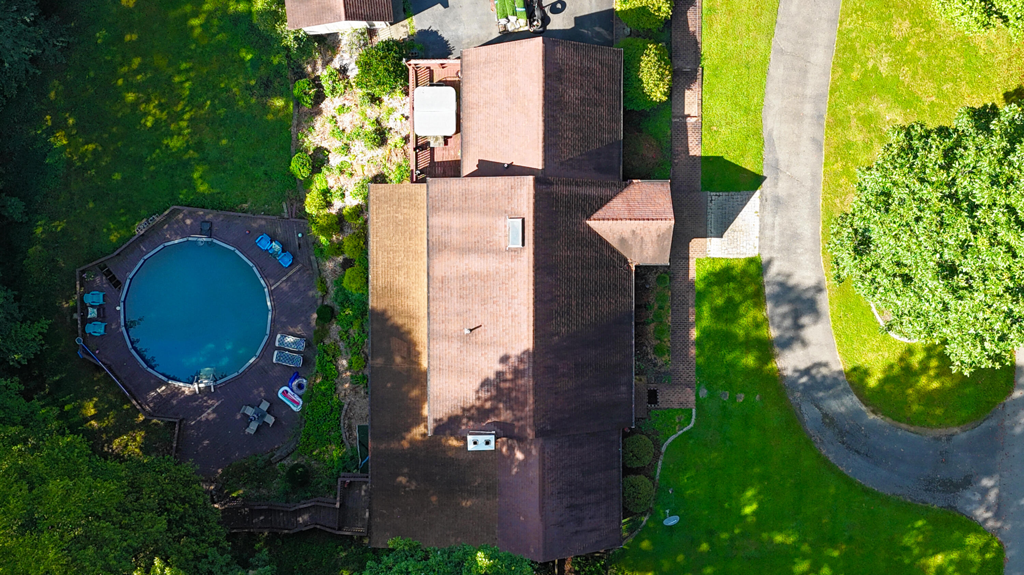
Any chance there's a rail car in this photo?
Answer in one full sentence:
No, no rail car can be seen from above.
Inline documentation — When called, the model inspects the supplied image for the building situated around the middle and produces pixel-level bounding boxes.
[367,36,674,563]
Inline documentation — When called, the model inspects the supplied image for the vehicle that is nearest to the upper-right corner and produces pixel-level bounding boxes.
[528,0,548,31]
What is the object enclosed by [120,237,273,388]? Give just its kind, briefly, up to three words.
swimming pool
